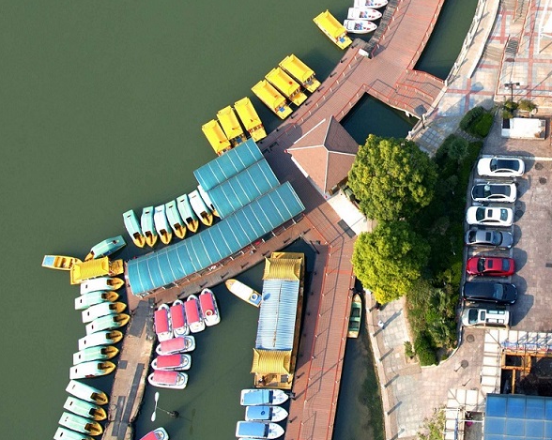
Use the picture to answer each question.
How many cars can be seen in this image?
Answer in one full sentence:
There are 7 cars in the image.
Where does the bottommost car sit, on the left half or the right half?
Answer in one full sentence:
It is on the right.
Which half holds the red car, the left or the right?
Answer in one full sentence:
The red car is on the right side of the image.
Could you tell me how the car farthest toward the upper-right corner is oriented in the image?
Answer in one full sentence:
The car farthest toward the upper-right corner runs horizontally in the image.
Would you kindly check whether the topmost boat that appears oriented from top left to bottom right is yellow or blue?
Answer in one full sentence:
In this view, the topmost boat that appears oriented from top left to bottom right is yellow.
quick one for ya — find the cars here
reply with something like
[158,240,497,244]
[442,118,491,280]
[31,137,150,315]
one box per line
[466,226,514,250]
[471,180,518,204]
[466,203,513,228]
[462,303,512,329]
[477,155,525,178]
[463,280,518,305]
[466,253,516,277]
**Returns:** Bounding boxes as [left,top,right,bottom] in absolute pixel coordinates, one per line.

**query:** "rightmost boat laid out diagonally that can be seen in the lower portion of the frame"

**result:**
[227,280,263,308]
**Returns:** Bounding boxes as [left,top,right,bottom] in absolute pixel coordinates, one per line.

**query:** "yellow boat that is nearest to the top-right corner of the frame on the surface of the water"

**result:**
[313,7,352,49]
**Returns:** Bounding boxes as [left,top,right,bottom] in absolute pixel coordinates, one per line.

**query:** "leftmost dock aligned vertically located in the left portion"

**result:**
[104,306,158,427]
